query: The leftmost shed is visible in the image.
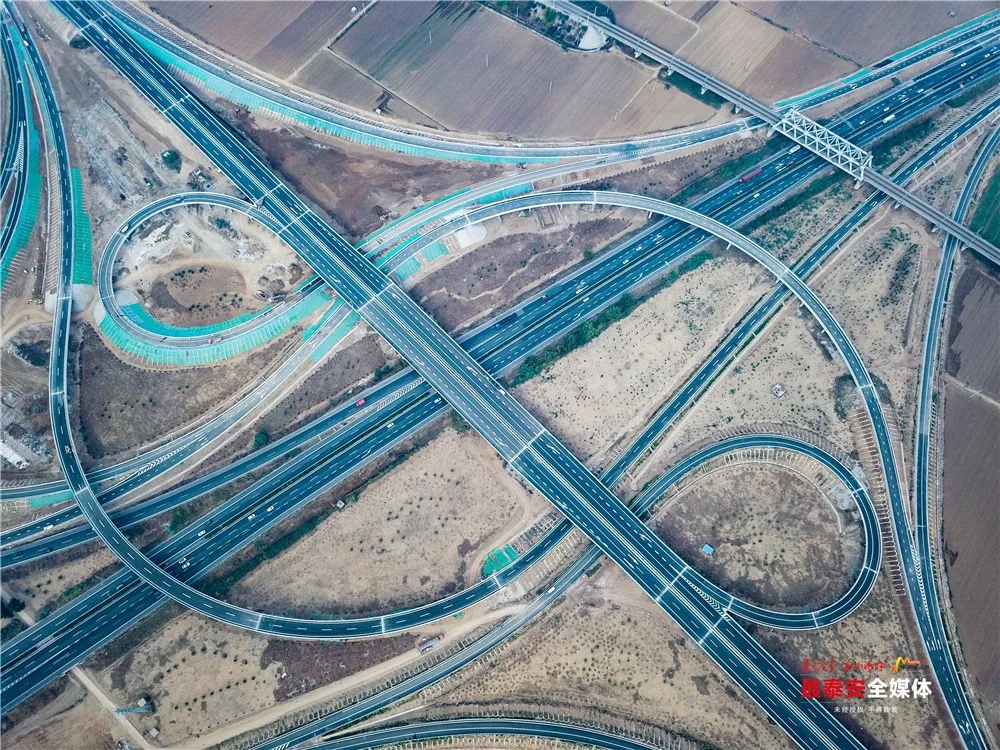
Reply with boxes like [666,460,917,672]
[0,437,29,472]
